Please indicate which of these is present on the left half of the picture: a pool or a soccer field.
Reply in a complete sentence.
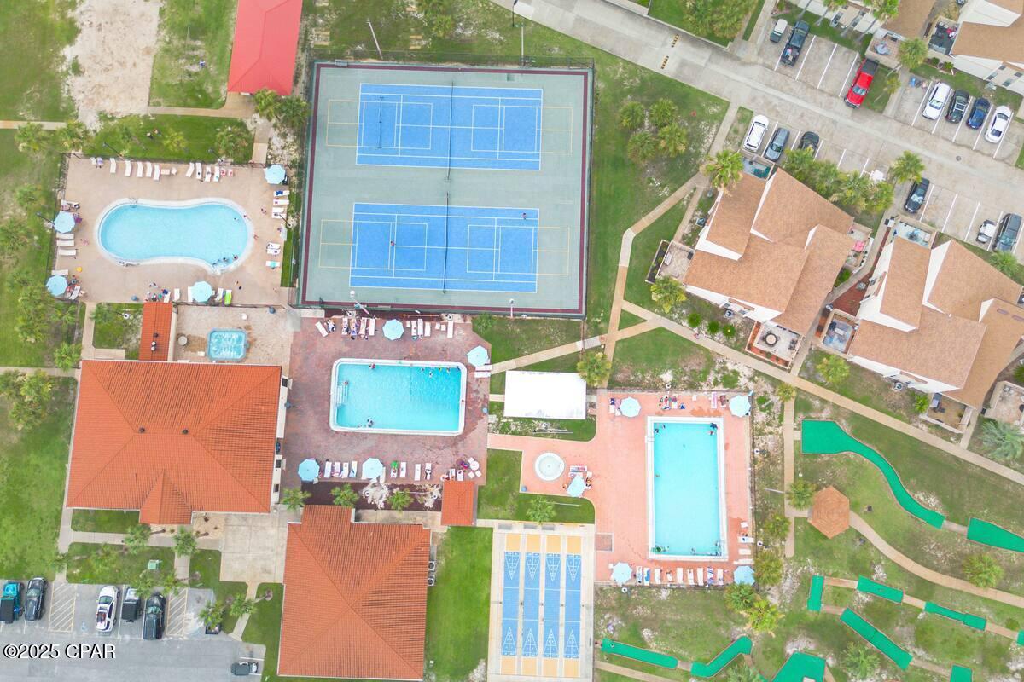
It is a pool that can be seen on the left half of the picture.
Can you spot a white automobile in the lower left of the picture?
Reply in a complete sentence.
Yes, there is a white automobile in the lower left of the picture.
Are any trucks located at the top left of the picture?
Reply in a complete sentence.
No, no truck appears at the top left of the picture.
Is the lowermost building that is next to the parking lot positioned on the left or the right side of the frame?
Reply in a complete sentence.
The lowermost building that is next to the parking lot sits on the left side.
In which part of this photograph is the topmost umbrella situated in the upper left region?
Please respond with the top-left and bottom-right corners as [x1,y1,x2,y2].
[266,163,287,183]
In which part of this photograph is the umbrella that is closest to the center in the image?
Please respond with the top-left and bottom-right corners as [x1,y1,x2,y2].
[467,344,488,366]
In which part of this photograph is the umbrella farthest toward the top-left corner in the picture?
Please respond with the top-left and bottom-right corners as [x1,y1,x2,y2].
[55,213,78,233]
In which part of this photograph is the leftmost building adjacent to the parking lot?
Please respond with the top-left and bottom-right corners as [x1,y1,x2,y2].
[65,358,288,525]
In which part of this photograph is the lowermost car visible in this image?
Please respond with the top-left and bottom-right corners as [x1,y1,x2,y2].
[228,659,260,679]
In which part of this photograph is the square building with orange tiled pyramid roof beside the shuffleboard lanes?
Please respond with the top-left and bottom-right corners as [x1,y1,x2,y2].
[277,504,433,682]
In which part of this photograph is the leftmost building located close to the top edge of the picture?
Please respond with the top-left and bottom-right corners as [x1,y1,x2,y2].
[227,0,305,98]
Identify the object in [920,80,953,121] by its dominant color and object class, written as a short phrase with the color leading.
white car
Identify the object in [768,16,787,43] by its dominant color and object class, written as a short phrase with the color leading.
white vehicle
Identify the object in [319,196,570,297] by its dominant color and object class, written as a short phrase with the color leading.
blue tennis court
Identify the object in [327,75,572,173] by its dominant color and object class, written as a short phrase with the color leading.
blue tennis court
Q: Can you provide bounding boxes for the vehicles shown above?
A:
[920,80,953,121]
[119,590,142,624]
[794,127,822,153]
[228,659,260,679]
[963,97,990,132]
[843,56,881,110]
[983,104,1012,145]
[768,16,787,43]
[142,593,169,639]
[991,210,1024,254]
[21,577,50,621]
[777,20,811,69]
[902,175,932,214]
[742,114,769,153]
[763,125,791,161]
[942,89,970,126]
[94,585,122,633]
[973,219,999,245]
[0,582,25,623]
